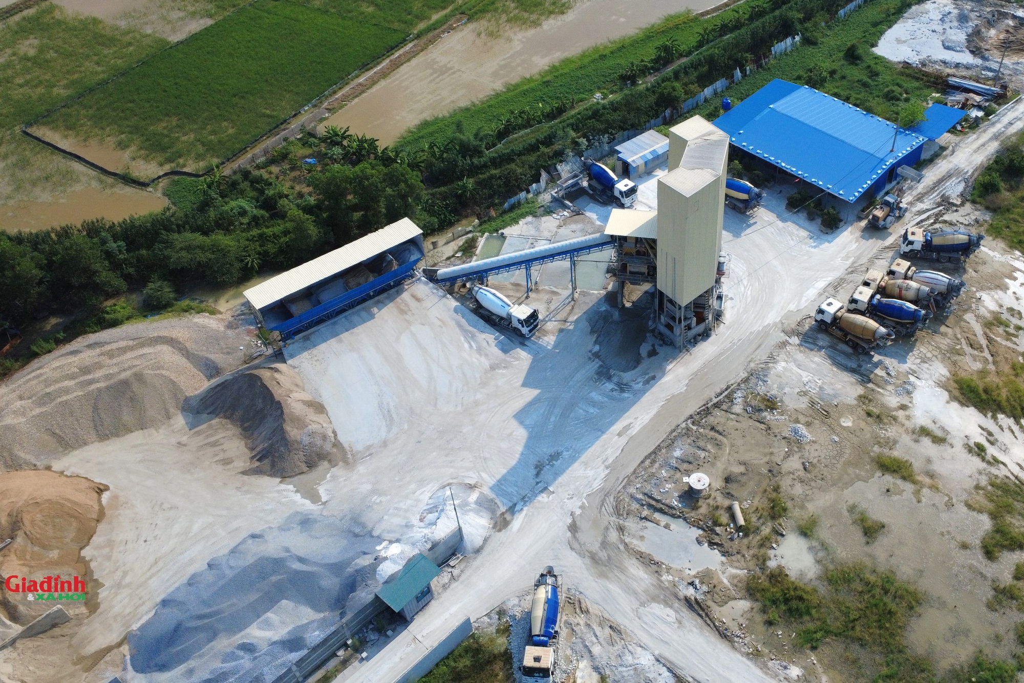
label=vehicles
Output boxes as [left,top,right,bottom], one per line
[812,298,898,357]
[725,181,768,213]
[882,255,969,308]
[863,171,927,233]
[517,566,563,683]
[897,227,987,265]
[579,157,642,209]
[852,266,942,313]
[464,282,539,340]
[844,284,933,339]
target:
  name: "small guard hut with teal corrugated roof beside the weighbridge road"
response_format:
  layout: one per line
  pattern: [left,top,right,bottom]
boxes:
[377,551,440,624]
